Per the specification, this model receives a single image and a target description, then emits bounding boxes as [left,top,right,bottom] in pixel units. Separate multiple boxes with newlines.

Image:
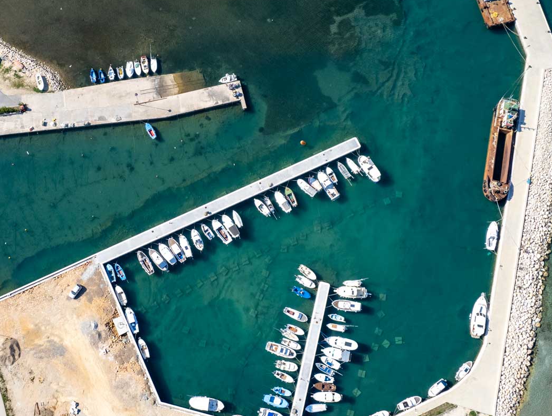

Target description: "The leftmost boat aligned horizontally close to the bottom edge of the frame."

[187,396,224,414]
